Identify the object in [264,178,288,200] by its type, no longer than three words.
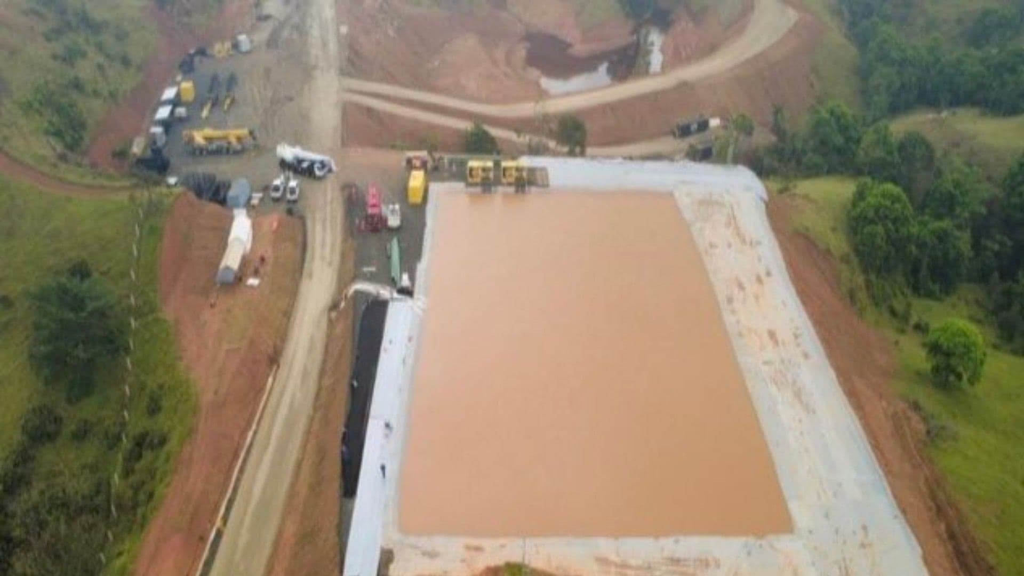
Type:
truck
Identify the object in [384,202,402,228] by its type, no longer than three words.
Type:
car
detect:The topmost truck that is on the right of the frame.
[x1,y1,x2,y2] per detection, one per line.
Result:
[675,118,717,139]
